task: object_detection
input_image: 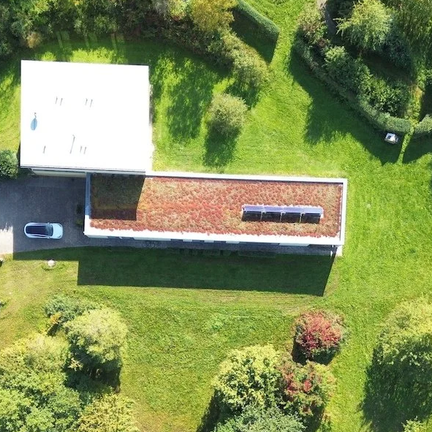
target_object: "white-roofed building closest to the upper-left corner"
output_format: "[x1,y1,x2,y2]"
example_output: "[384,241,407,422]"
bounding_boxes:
[21,61,152,179]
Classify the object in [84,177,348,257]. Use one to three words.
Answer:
building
